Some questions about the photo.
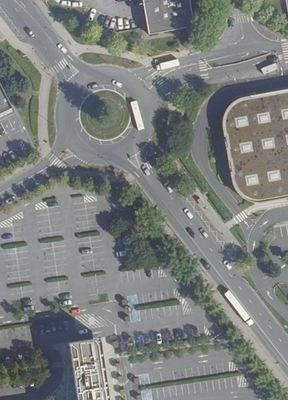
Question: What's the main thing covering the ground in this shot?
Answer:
paved ground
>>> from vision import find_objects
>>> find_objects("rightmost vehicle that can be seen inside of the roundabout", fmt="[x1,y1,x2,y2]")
[131,100,144,132]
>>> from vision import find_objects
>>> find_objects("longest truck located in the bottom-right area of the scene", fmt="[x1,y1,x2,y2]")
[224,290,254,326]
